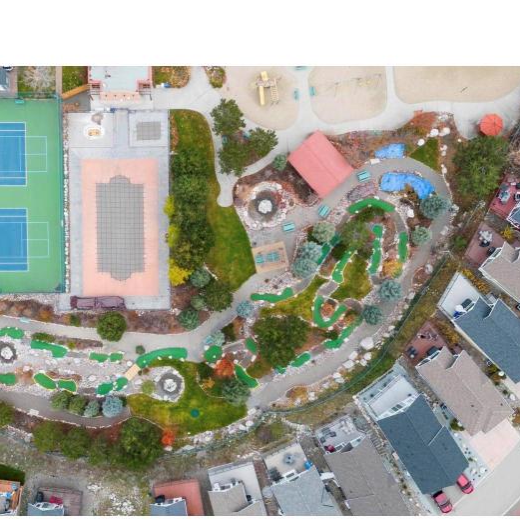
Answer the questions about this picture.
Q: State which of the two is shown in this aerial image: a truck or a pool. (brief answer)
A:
pool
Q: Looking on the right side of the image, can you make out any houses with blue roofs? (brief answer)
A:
Yes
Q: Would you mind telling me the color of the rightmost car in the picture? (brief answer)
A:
red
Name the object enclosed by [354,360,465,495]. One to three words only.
house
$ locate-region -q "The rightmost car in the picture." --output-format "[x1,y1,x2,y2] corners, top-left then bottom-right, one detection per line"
[454,471,475,496]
